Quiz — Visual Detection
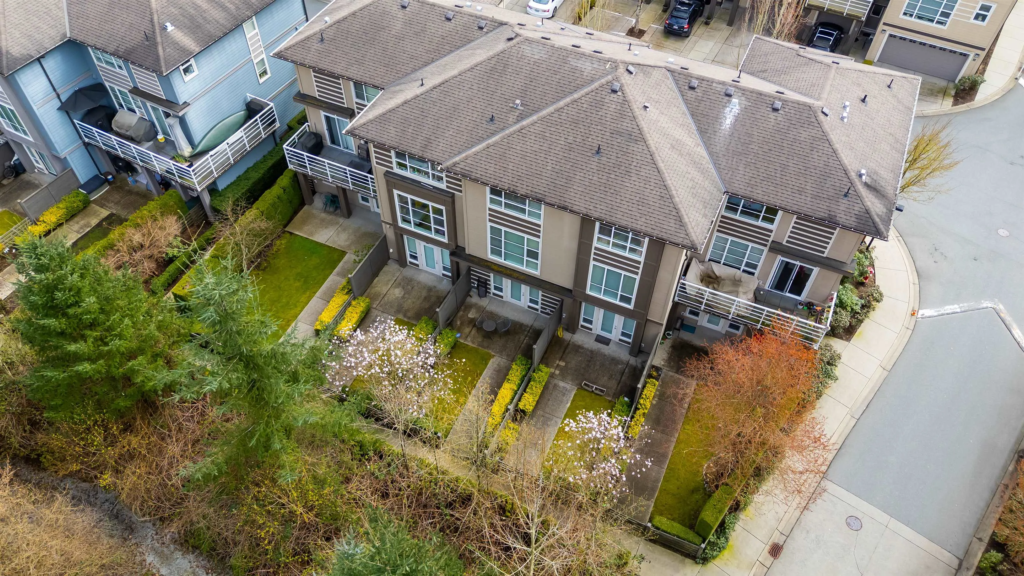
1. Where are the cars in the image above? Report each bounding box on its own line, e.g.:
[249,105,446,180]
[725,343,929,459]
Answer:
[807,20,846,54]
[528,0,564,17]
[664,0,704,36]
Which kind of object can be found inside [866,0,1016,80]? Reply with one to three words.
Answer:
house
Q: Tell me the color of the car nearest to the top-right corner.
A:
black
